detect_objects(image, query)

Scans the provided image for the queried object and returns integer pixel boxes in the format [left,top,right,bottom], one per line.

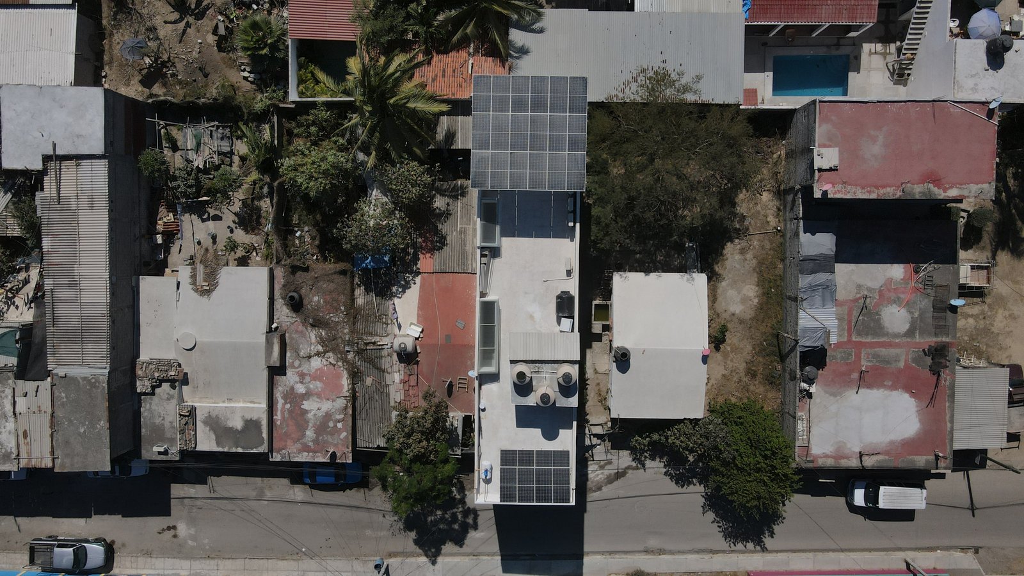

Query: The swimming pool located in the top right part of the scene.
[770,52,852,99]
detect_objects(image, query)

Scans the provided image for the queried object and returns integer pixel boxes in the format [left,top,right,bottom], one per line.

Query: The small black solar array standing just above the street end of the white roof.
[500,450,574,503]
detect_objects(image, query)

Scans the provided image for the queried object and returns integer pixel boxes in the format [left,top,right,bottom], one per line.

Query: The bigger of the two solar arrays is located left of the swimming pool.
[471,76,586,194]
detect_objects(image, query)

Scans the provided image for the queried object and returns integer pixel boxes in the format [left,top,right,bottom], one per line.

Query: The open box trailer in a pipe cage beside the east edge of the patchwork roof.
[958,259,1001,290]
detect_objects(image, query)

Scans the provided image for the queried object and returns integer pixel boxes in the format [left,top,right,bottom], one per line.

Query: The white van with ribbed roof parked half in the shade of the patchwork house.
[843,475,932,512]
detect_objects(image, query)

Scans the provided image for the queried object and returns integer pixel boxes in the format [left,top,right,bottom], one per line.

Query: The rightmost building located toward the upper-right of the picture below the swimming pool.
[768,98,999,211]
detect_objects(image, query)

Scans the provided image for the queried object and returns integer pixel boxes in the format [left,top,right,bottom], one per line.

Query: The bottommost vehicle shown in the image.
[24,538,113,573]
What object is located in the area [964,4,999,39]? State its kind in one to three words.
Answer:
umbrella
